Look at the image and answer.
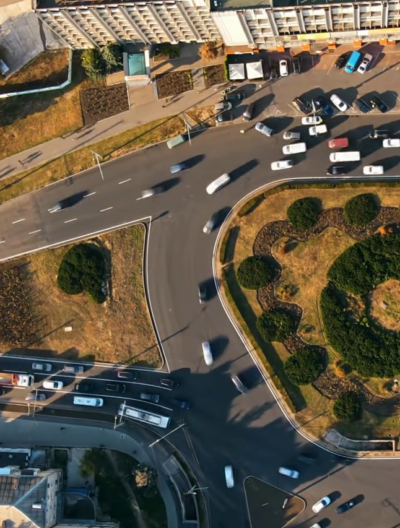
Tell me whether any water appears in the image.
No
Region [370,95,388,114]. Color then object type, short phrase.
black car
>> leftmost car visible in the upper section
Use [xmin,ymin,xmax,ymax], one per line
[49,201,67,214]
